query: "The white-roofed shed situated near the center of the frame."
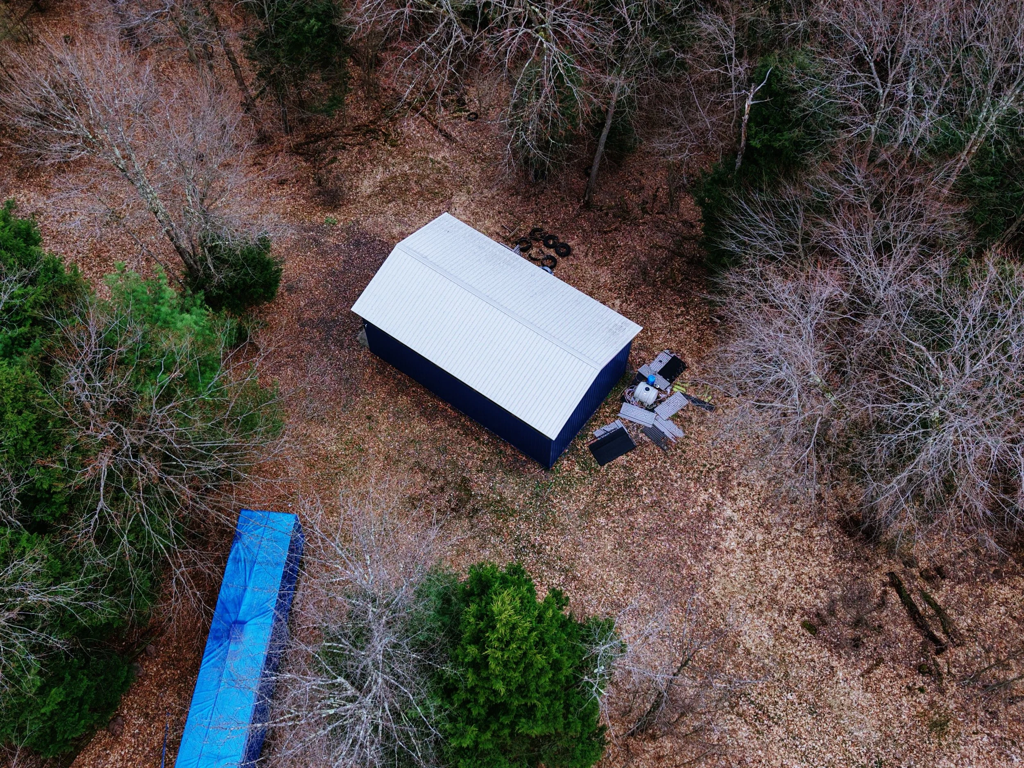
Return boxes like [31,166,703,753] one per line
[350,210,644,470]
